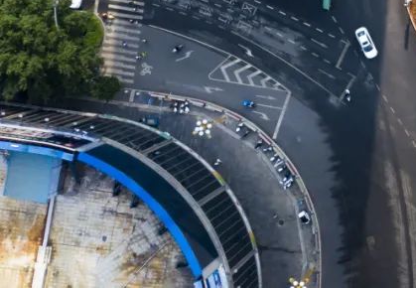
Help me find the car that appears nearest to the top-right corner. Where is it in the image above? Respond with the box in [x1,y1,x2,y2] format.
[354,25,378,61]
